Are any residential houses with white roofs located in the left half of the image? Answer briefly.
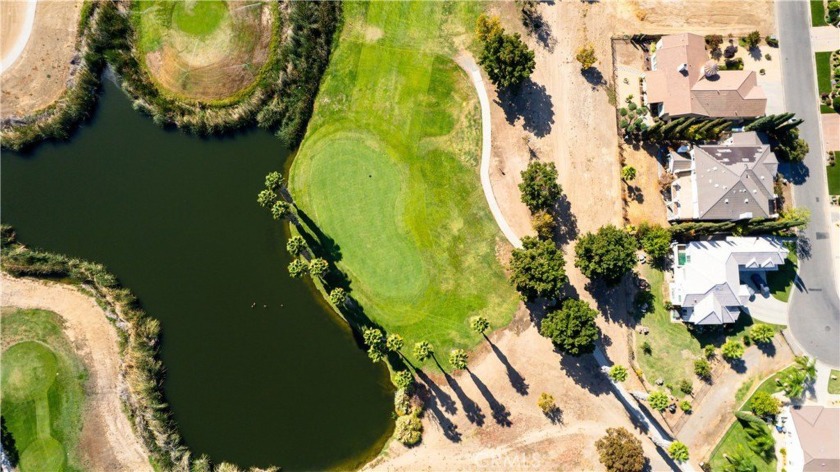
No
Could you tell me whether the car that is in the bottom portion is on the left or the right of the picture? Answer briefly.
right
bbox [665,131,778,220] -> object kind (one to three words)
house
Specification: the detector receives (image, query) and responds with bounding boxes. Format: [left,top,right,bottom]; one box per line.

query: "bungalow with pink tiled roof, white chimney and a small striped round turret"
[641,32,767,117]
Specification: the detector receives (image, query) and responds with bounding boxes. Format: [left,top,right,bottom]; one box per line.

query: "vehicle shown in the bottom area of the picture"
[751,273,771,296]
